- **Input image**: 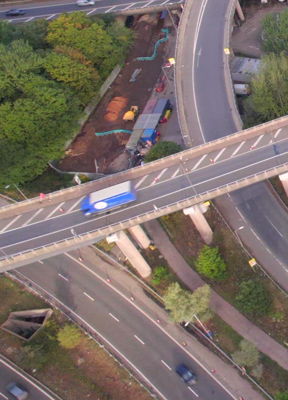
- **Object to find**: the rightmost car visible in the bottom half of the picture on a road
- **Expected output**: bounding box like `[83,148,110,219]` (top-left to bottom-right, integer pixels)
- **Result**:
[175,362,197,386]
